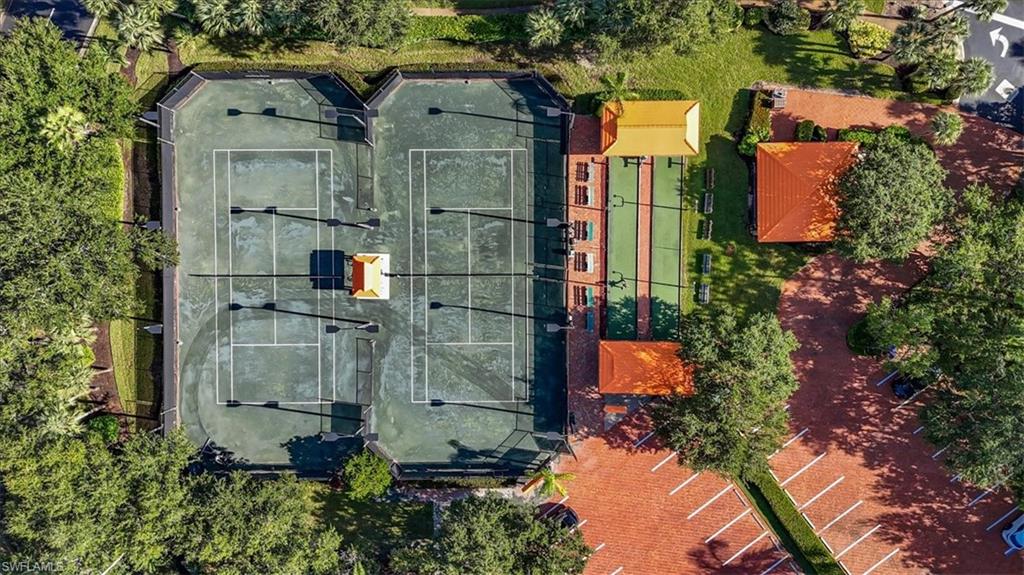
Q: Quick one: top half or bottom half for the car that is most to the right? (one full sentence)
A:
You can find the car that is most to the right in the bottom half.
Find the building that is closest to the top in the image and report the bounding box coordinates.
[599,101,699,158]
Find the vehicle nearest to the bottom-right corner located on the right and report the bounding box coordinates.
[1002,519,1024,551]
